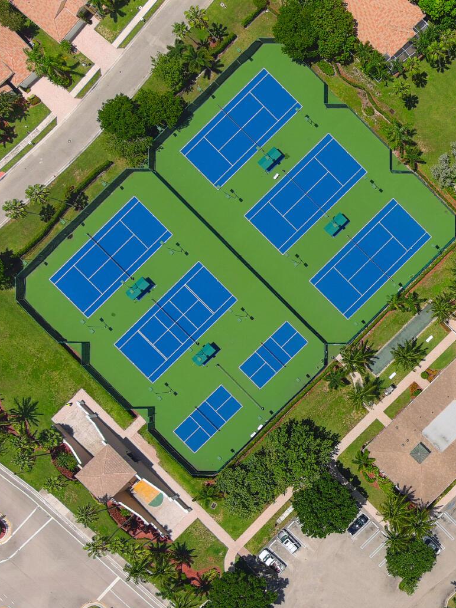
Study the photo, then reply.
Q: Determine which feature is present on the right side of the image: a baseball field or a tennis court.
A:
tennis court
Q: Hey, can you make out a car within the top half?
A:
No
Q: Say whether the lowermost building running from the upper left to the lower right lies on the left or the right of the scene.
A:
left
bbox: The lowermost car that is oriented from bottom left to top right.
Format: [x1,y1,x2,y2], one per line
[348,513,370,534]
